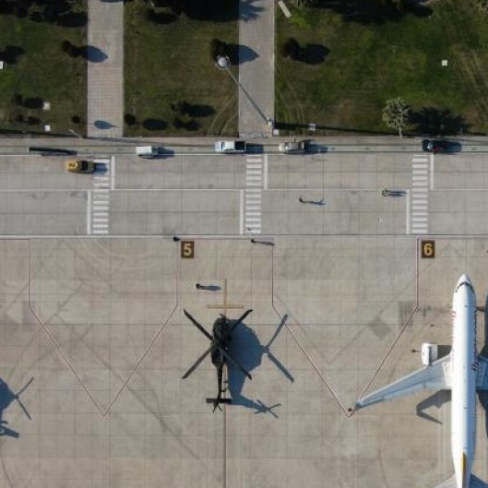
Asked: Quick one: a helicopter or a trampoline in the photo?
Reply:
helicopter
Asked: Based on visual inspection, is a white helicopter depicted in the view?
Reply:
No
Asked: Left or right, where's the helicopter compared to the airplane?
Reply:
left of it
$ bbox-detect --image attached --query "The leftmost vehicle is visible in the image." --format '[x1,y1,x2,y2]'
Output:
[63,158,93,171]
